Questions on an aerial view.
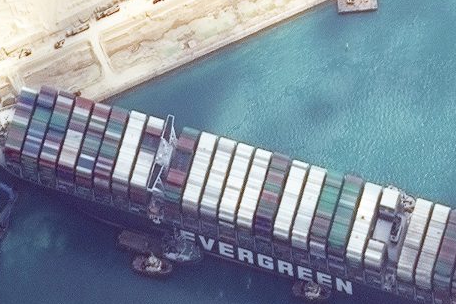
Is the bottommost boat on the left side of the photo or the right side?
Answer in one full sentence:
You can find the bottommost boat on the right side of the picture.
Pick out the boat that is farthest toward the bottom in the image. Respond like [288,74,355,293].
[291,282,332,304]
